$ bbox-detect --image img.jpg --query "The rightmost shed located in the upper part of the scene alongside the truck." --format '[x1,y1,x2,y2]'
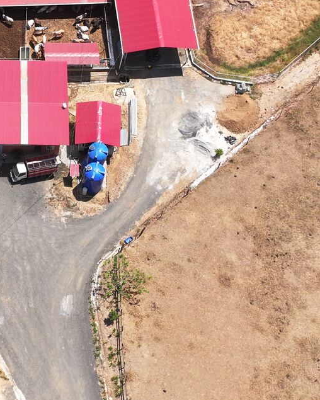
[76,98,122,147]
